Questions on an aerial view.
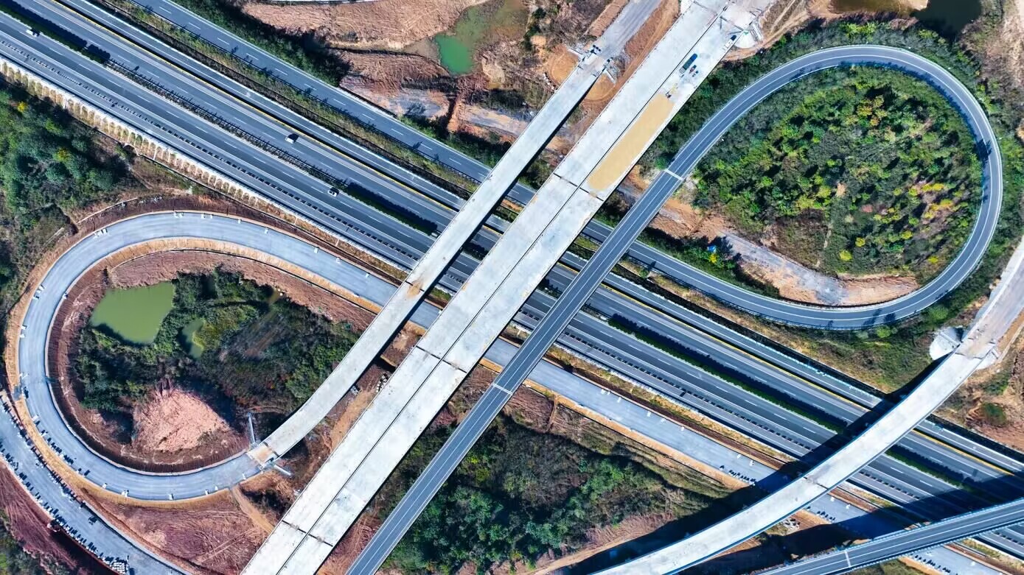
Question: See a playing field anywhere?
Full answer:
No, the picture doesn't show any playing field.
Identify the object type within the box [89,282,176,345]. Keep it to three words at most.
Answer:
pond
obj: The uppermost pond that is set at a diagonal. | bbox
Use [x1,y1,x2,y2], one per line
[433,0,529,76]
